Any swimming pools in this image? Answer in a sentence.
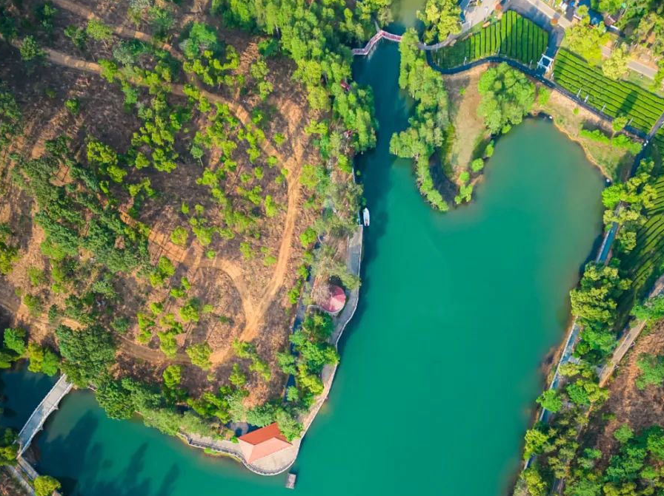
No, no swimming pool is visible in the scene.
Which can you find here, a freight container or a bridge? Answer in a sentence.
There is a bridge in the scene.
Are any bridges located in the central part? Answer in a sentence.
No, there is no bridge in the central part.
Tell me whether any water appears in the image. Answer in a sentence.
Yes, there's water in this view.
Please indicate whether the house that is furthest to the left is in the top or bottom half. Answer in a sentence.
Seen from above, the house that is furthest to the left lies in the bottom half of the view.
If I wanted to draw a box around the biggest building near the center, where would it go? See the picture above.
[317,284,347,315]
